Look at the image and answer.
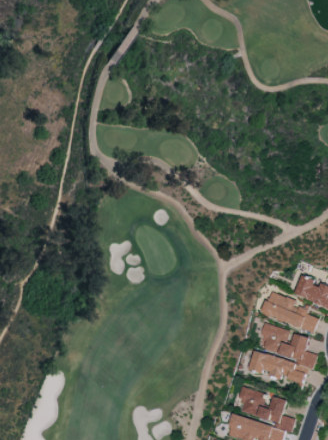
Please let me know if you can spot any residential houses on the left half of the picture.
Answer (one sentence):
No, looking on the left half of the picture, there is no residential house.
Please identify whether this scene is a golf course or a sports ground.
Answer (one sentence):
This looks like a golf course.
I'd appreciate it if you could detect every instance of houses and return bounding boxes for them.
[238,386,297,431]
[260,290,320,332]
[259,322,319,368]
[228,414,286,440]
[248,348,310,387]
[298,270,328,302]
